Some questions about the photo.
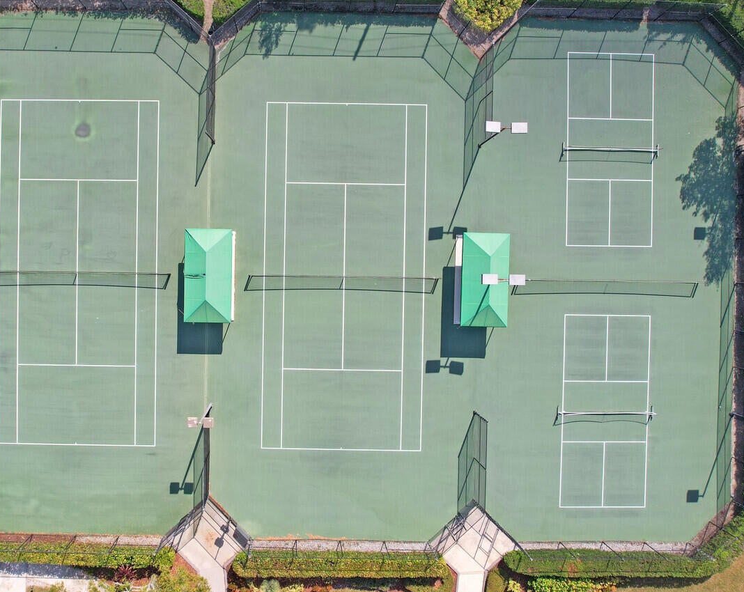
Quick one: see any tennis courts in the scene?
Yes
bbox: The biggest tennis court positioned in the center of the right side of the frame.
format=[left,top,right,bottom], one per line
[473,17,741,543]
